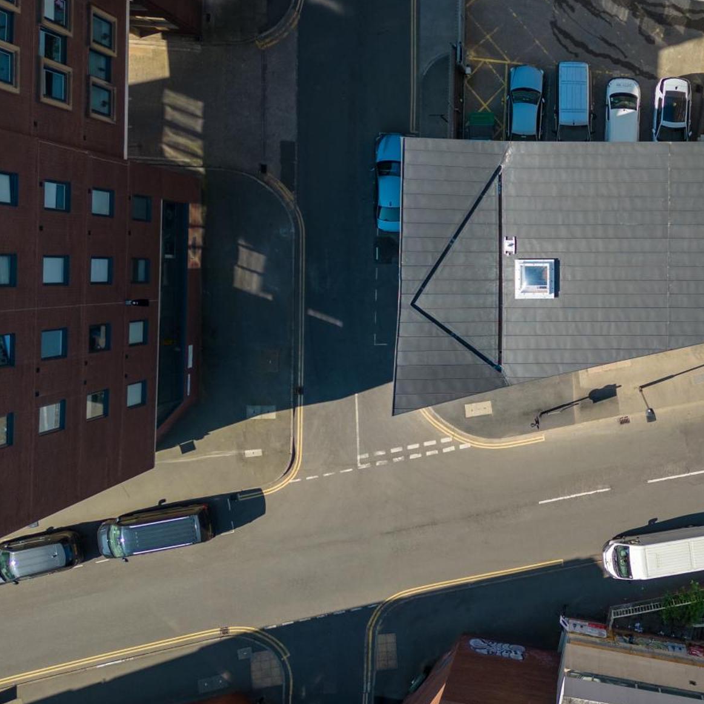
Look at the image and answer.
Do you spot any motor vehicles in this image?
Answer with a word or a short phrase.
Yes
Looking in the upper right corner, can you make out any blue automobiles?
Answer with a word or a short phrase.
Yes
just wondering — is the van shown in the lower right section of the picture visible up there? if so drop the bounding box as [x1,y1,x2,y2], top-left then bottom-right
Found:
[607,523,704,582]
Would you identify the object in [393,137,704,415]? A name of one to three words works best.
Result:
building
